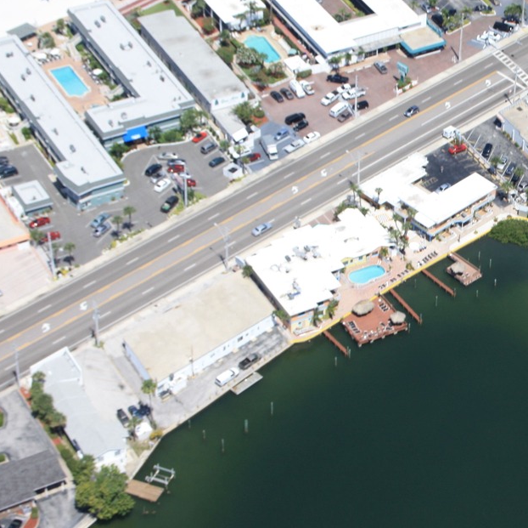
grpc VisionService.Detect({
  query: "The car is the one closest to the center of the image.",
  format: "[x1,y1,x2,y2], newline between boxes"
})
[252,221,272,234]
